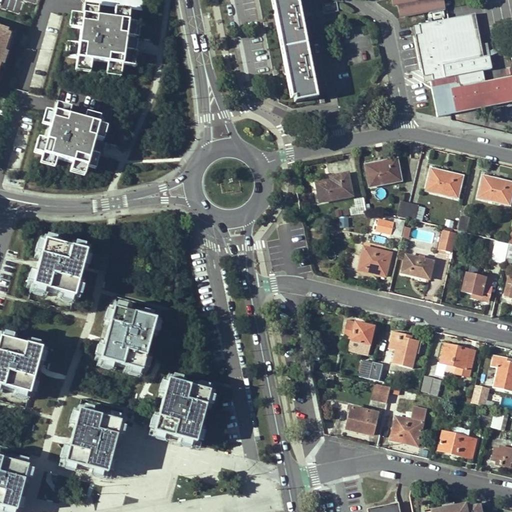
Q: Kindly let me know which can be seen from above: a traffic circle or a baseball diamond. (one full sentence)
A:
Looking from above, you can make out a traffic circle.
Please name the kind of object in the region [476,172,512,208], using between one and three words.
house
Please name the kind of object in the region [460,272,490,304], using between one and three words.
house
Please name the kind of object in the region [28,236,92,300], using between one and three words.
building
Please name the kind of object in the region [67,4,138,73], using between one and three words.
building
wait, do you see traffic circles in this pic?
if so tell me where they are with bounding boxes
[203,158,254,209]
